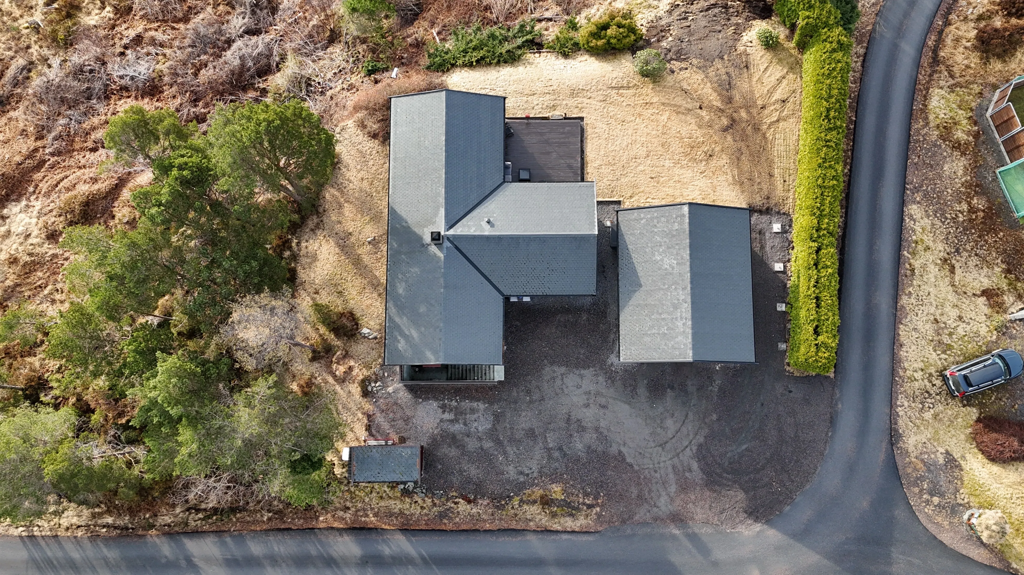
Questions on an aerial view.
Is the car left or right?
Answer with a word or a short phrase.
right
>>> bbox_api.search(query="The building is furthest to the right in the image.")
[612,201,759,364]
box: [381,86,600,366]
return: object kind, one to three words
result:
house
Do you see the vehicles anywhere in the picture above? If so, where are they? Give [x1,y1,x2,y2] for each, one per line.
[942,351,1024,400]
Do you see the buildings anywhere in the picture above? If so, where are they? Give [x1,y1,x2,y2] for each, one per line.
[612,201,759,364]
[349,444,425,488]
[381,86,600,366]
